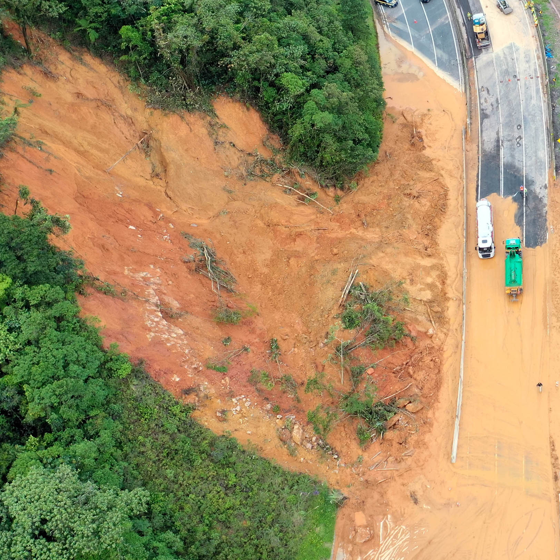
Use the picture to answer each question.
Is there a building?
No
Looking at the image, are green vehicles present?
Yes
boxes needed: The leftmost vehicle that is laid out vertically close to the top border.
[472,14,490,48]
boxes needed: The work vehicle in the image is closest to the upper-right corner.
[496,0,514,14]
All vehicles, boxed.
[502,238,528,306]
[496,0,514,14]
[476,200,497,257]
[472,14,490,48]
[373,0,398,8]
